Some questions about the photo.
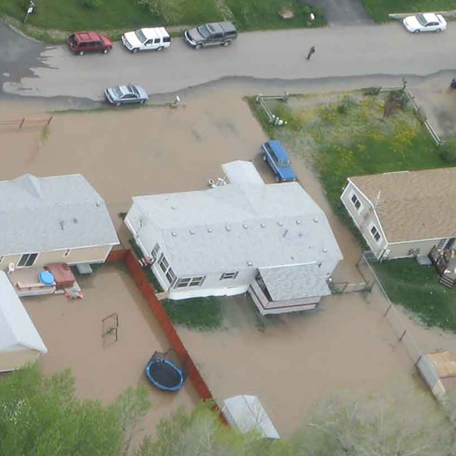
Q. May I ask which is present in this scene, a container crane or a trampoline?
trampoline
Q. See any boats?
No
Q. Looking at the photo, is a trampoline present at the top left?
No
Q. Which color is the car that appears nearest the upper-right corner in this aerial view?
white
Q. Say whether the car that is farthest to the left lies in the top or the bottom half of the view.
top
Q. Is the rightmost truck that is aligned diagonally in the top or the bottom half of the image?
top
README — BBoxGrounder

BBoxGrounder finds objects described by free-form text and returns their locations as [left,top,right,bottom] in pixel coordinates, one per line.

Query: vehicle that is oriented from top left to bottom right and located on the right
[254,136,300,182]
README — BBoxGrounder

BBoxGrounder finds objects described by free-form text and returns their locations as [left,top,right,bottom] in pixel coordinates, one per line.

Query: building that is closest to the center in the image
[124,157,344,314]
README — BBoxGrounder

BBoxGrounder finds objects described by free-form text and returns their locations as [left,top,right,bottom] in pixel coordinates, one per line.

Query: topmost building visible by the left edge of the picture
[0,168,119,271]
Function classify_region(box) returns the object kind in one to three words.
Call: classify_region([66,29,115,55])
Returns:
car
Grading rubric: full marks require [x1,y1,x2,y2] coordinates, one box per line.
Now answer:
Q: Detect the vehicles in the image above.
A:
[100,83,150,107]
[401,12,447,33]
[254,136,300,182]
[120,24,172,51]
[66,29,115,55]
[182,20,240,47]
